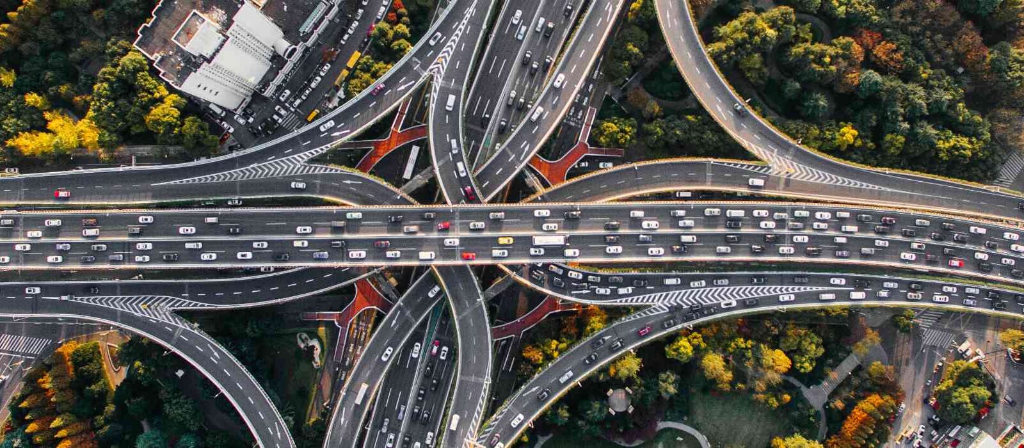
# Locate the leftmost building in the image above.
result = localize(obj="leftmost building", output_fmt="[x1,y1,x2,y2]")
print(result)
[130,0,345,113]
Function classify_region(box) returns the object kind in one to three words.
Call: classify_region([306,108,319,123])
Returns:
vehicle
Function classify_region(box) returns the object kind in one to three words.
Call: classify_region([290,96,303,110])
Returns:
vehicle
